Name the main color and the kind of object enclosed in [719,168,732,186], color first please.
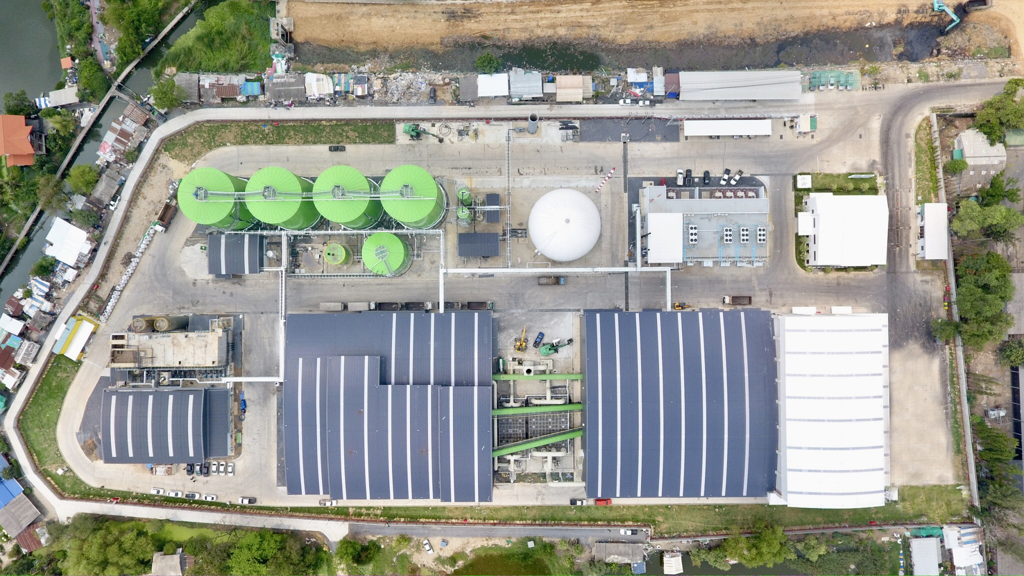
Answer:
white vehicle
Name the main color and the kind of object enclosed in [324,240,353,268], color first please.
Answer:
green storage tank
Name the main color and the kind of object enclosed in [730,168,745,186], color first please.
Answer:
white vehicle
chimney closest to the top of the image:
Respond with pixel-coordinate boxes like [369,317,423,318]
[526,111,540,139]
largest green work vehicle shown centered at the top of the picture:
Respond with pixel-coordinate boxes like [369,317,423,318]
[405,126,442,142]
